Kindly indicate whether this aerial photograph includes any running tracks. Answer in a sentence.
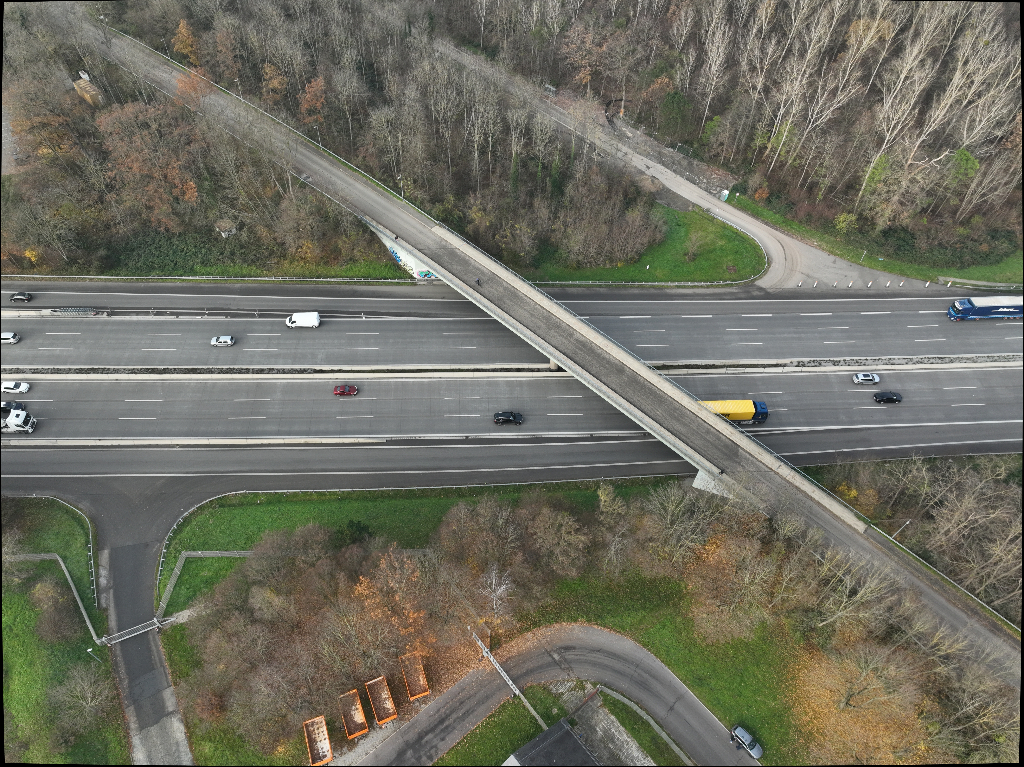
No, there appears to be no running track in this shot.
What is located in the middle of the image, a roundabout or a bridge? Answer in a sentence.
There is a bridge in the middle of the image.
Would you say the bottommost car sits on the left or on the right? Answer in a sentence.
You can find the bottommost car on the right side of the picture.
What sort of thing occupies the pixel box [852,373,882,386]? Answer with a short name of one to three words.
vehicle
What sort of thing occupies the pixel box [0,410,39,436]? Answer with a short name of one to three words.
truck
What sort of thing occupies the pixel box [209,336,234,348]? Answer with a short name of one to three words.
vehicle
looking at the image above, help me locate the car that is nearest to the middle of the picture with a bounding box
[493,412,524,426]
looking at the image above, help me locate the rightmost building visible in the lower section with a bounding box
[511,716,598,767]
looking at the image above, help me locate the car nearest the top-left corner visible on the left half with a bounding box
[6,292,33,304]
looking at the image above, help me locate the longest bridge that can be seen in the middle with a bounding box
[357,196,877,572]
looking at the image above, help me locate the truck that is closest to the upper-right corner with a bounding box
[947,297,1024,323]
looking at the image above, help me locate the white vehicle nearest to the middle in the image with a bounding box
[284,311,320,328]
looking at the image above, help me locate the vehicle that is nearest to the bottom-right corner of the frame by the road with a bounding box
[727,720,765,760]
